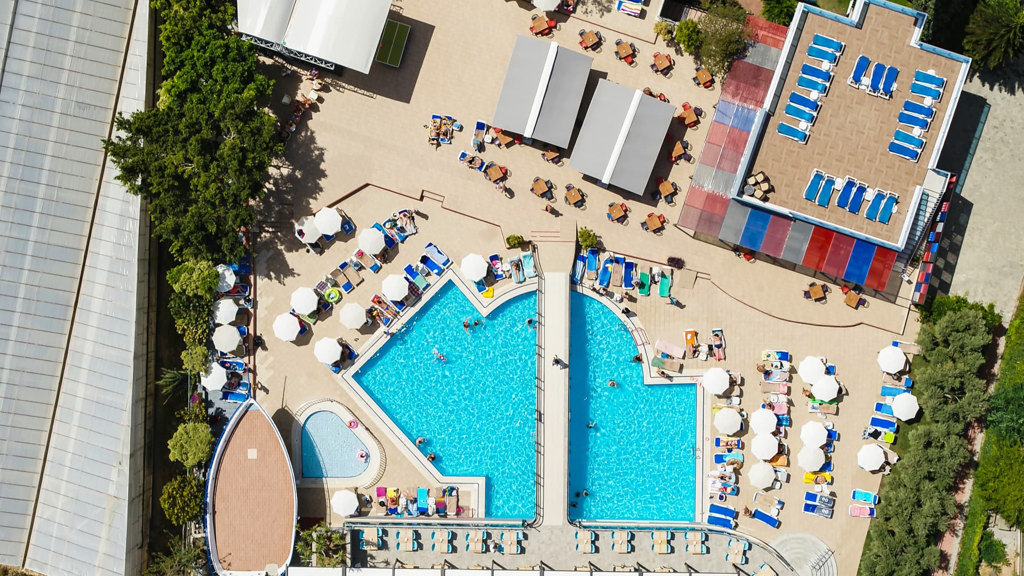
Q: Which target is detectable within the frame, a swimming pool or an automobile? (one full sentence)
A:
This aerial view contains a swimming pool.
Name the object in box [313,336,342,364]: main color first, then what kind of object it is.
white umbrella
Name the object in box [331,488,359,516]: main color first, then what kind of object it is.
white umbrella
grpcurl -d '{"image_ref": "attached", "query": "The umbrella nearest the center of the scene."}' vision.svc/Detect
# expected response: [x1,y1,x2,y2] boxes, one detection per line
[461,255,489,283]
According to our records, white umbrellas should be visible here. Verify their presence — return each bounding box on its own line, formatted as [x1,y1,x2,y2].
[331,488,359,516]
[809,375,838,402]
[461,255,489,283]
[712,405,740,433]
[339,302,367,330]
[749,434,776,460]
[313,336,342,364]
[878,345,905,372]
[212,297,240,325]
[856,443,885,472]
[382,275,411,303]
[750,409,778,436]
[797,353,826,382]
[295,216,322,244]
[292,288,320,315]
[797,445,826,471]
[313,207,341,236]
[213,325,240,352]
[273,313,300,340]
[703,367,731,395]
[797,419,826,446]
[358,229,387,257]
[200,363,228,391]
[891,393,919,422]
[746,460,774,488]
